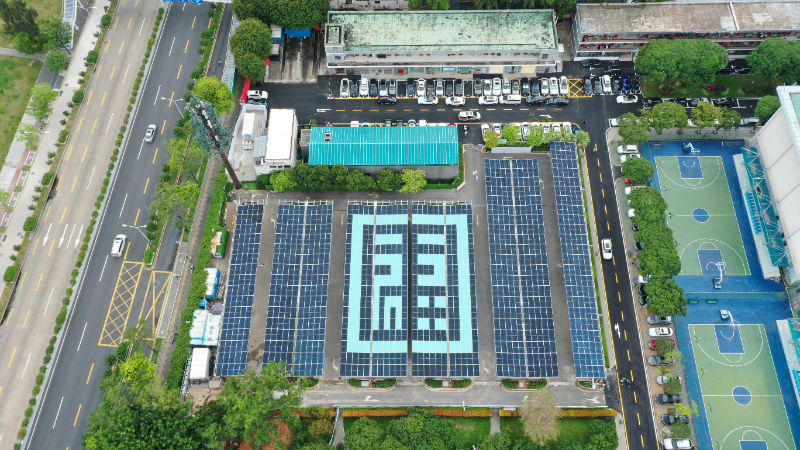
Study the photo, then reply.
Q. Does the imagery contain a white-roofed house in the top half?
Yes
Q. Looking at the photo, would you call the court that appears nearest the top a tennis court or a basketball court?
basketball court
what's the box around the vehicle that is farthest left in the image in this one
[112,235,126,255]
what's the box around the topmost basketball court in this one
[655,156,751,275]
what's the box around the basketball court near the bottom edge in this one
[688,323,795,450]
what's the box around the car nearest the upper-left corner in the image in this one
[145,124,157,142]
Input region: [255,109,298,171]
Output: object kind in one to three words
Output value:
house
